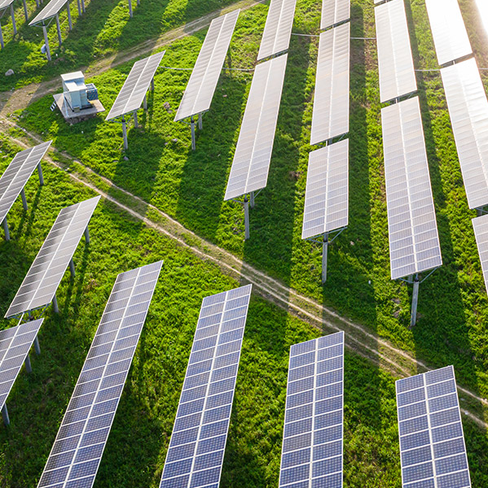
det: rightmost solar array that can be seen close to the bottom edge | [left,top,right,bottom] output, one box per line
[396,367,471,488]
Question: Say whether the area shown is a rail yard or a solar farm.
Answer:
solar farm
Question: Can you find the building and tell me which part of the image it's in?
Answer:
top left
